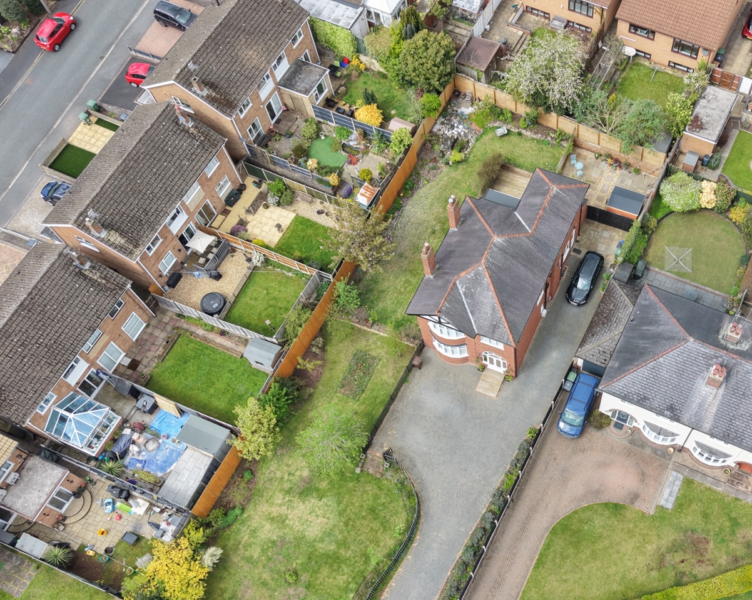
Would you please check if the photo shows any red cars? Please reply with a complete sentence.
Yes, there's a red car down there.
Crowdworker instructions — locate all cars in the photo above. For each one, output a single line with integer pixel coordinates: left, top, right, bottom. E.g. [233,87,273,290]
[35,15,79,50]
[560,370,599,435]
[118,61,154,89]
[33,179,75,209]
[147,0,197,30]
[743,8,752,40]
[565,250,607,308]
